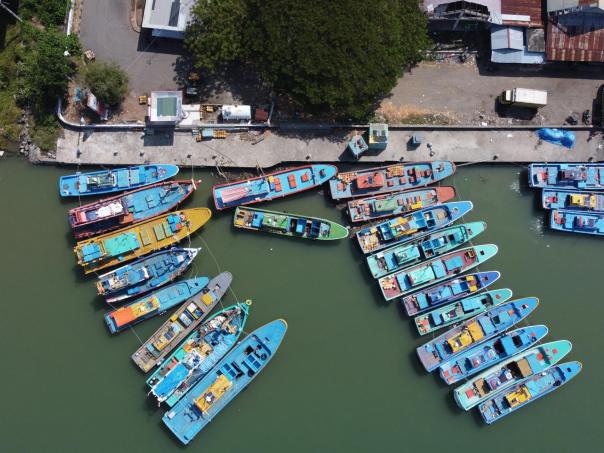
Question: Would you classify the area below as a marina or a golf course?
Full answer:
What you see here is a marina.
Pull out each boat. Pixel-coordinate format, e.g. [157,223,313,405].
[329,162,458,202]
[132,274,232,372]
[234,206,350,241]
[212,166,339,209]
[477,361,583,425]
[452,341,573,413]
[547,210,604,236]
[104,278,210,332]
[347,185,457,223]
[526,165,604,191]
[413,289,514,336]
[67,179,203,238]
[367,222,488,278]
[416,297,540,372]
[94,249,199,299]
[71,206,212,272]
[401,271,502,316]
[439,326,549,387]
[147,303,247,404]
[59,165,181,196]
[539,189,604,215]
[378,243,500,303]
[161,318,289,444]
[356,202,474,255]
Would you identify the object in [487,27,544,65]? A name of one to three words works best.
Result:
shed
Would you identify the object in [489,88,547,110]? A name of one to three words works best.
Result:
truck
